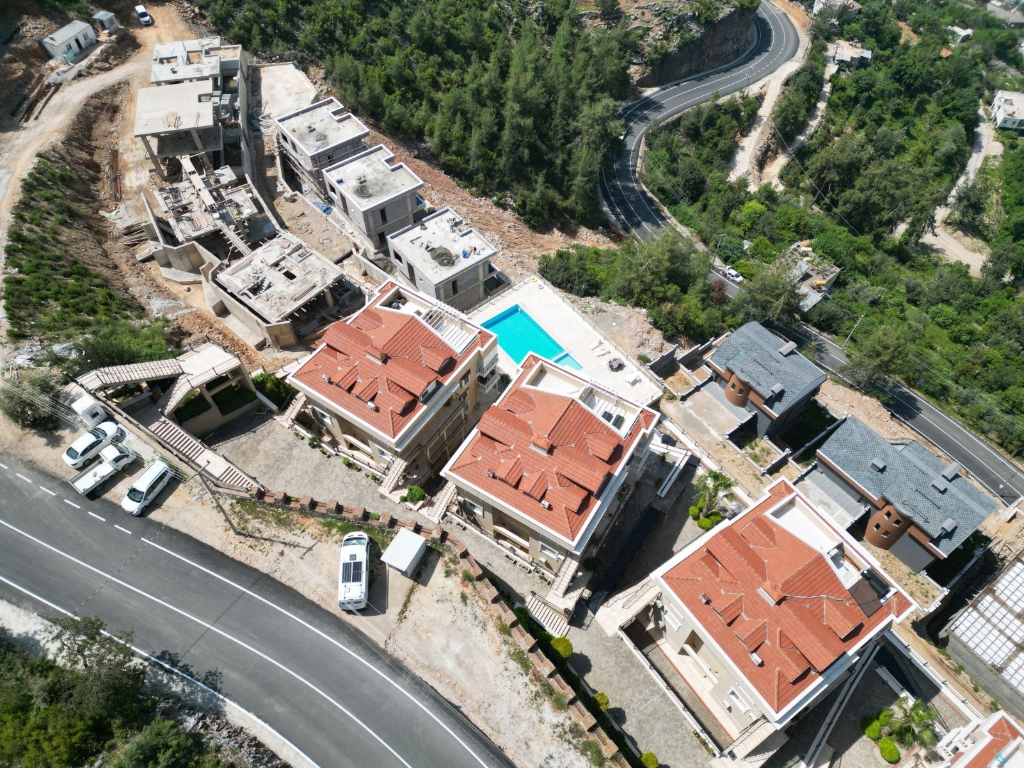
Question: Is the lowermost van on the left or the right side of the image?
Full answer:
The lowermost van appears in the left half of the scene.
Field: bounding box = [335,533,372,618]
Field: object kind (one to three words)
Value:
van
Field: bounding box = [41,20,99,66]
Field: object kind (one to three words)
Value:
building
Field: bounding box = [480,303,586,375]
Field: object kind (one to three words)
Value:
swimming pool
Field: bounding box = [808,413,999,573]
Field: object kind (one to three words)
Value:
house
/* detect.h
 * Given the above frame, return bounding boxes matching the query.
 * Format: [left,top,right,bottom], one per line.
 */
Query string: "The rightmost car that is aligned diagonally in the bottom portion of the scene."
[119,456,180,519]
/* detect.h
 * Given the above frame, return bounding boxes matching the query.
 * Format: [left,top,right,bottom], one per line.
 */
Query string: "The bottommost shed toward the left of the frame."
[381,528,427,583]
